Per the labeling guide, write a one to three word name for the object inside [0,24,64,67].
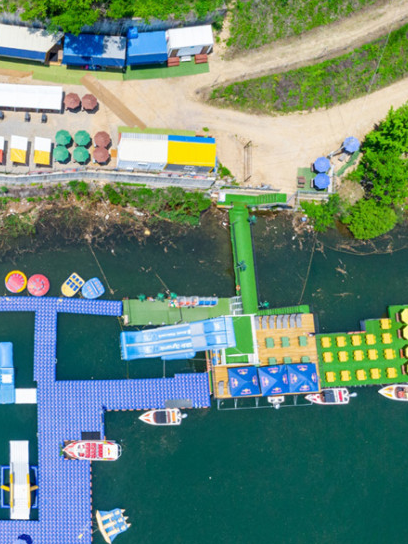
building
